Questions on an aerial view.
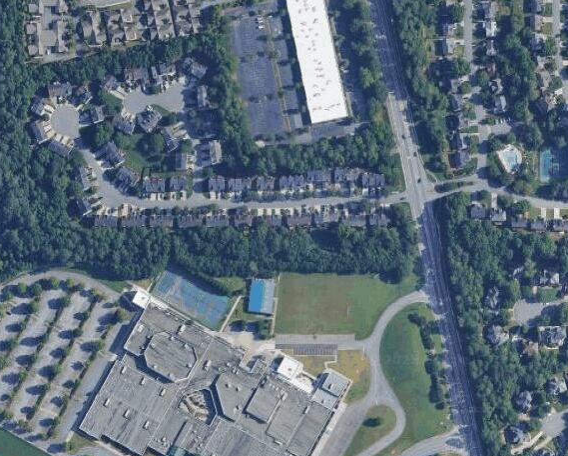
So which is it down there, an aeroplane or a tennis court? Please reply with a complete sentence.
The image shows a tennis court.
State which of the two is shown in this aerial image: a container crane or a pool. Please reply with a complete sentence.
This aerial view contains a pool.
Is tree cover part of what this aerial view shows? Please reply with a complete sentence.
Yes, the picture does contain tree cover.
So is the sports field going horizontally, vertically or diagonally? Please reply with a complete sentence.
In this picture, the sports field is oriented horizontally.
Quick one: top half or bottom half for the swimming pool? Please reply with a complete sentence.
The swimming pool is in the top half of the image.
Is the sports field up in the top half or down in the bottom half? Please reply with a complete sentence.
It is in the bottom half that the sports field appears.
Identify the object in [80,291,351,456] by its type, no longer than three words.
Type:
building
